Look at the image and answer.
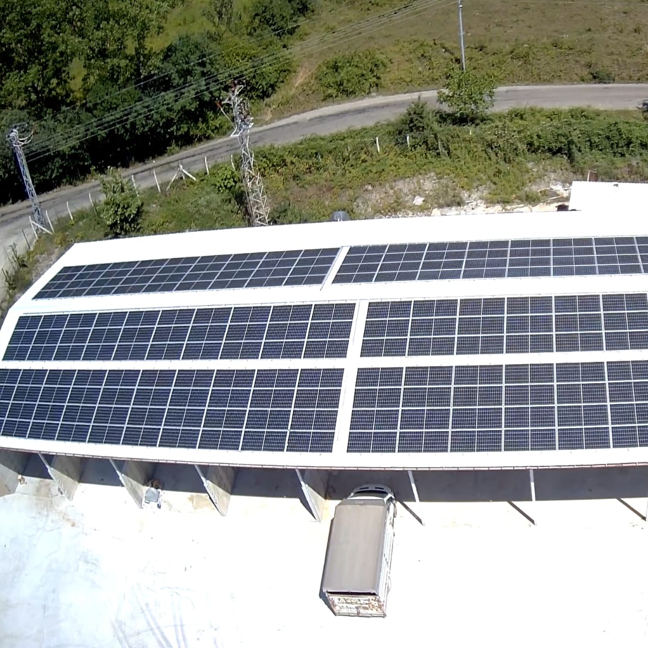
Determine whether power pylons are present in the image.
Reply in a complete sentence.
Yes, the photo shows a power pylon.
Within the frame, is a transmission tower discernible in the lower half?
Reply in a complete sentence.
No, I see no transmission tower in the lower half.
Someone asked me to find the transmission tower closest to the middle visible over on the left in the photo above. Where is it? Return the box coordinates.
[210,82,272,228]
